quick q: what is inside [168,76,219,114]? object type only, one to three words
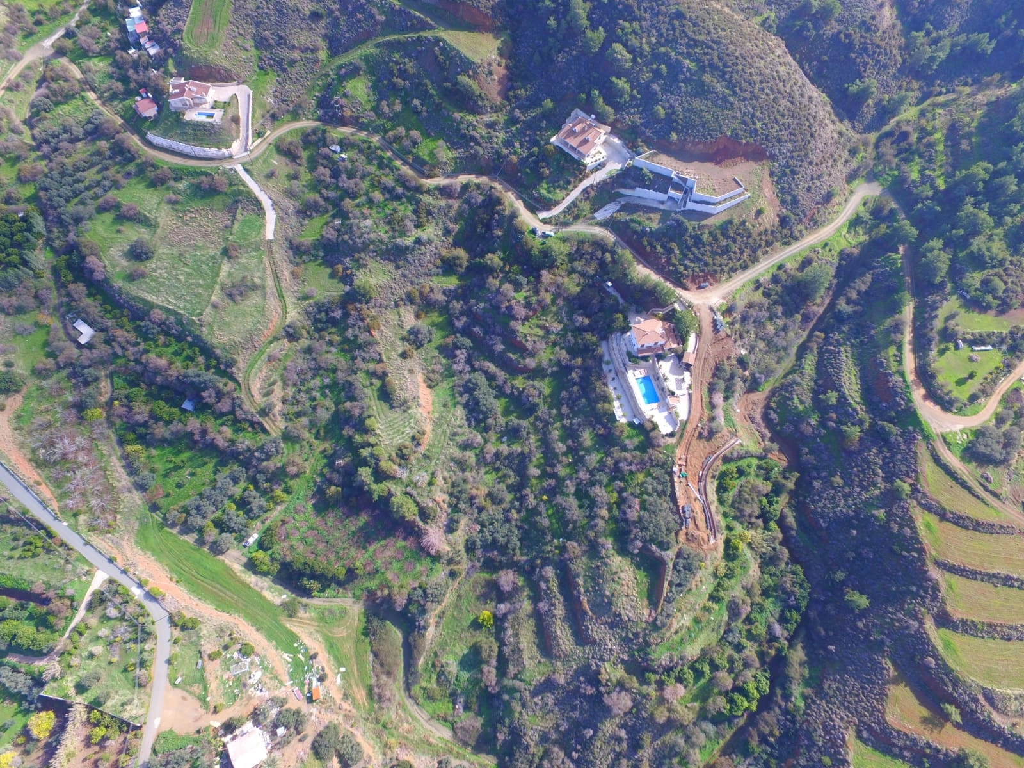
house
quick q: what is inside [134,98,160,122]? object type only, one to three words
house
